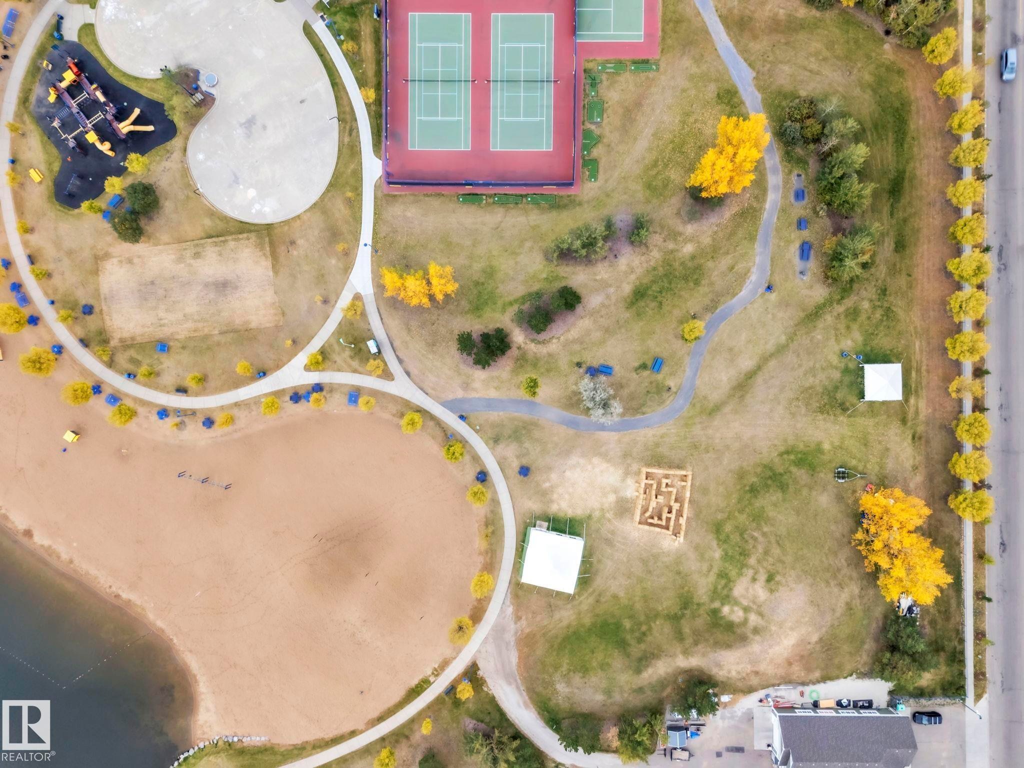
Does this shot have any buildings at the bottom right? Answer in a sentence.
Yes, there is a building at the bottom right.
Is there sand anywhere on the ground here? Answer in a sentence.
Yes, some sand is visible.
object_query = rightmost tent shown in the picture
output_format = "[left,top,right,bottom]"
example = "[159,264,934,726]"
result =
[846,351,909,413]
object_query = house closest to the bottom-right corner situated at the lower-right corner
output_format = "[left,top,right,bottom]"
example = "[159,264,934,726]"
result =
[769,708,918,767]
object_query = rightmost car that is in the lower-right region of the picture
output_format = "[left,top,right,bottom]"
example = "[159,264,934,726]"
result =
[911,710,940,725]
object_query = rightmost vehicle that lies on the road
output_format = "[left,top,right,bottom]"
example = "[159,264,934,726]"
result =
[999,50,1016,81]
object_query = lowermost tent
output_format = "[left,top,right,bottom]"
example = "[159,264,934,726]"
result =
[518,512,594,601]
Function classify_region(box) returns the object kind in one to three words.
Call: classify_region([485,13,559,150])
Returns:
tennis court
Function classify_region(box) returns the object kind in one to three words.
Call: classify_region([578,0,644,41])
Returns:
tennis court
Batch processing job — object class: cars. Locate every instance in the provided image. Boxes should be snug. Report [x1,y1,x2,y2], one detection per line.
[911,710,940,725]
[999,50,1016,81]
